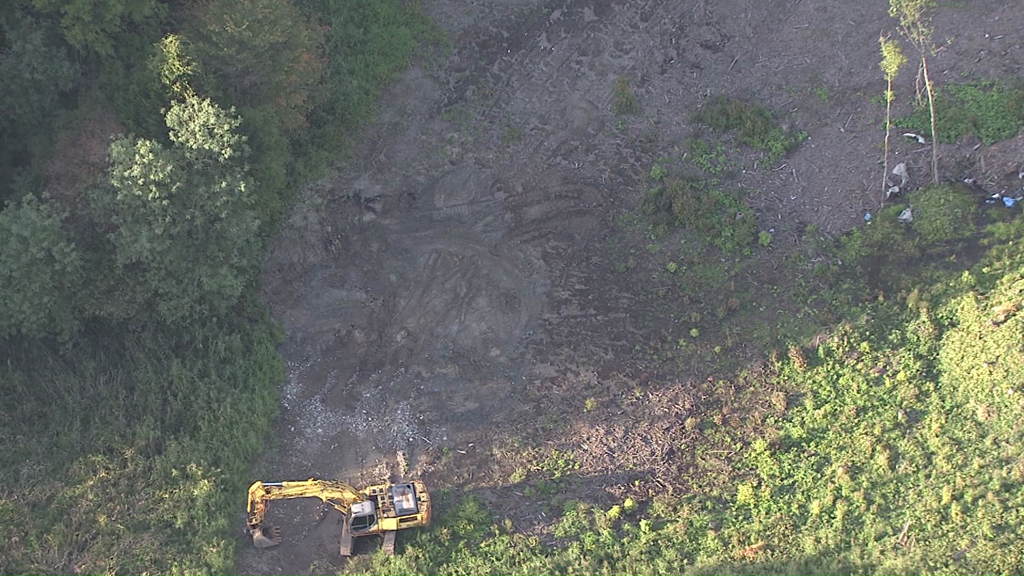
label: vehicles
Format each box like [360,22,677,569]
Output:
[248,474,431,556]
